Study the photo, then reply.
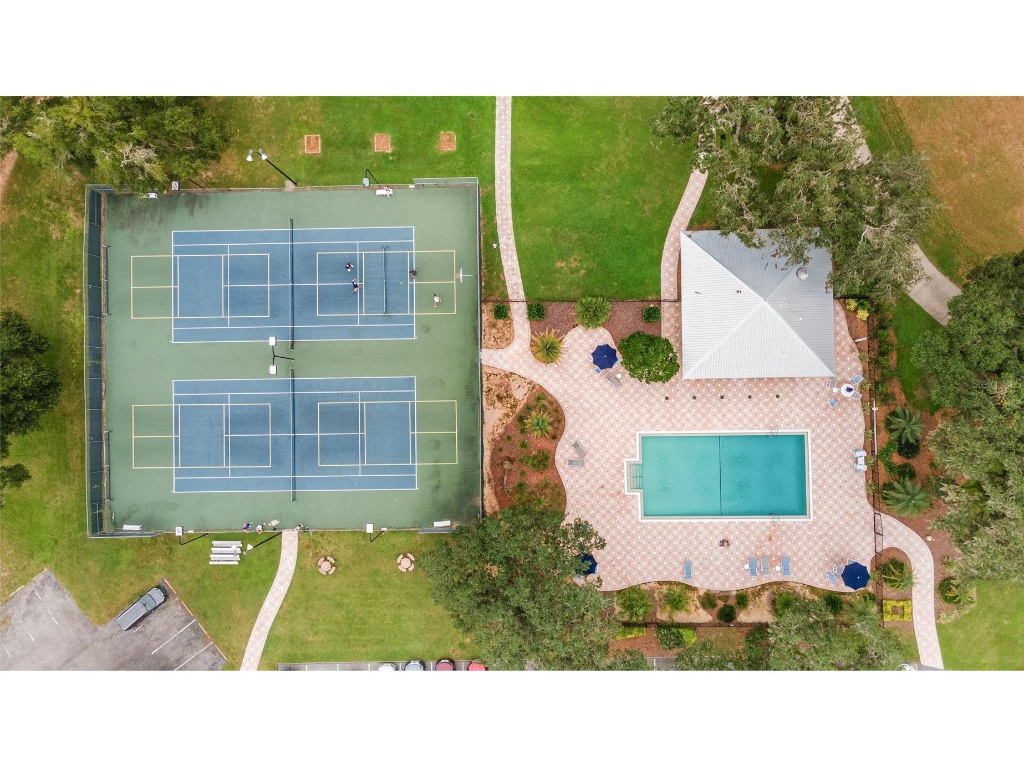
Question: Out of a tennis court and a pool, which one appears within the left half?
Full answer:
You can see a tennis court within the left half.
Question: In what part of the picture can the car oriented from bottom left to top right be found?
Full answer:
Look in the bottom left portion of the view to spot the car oriented from bottom left to top right.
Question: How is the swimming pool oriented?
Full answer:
The swimming pool has been laid out horizontally relative to the frame.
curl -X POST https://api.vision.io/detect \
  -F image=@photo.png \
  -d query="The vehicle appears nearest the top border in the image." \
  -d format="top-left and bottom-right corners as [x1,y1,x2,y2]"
[108,585,169,634]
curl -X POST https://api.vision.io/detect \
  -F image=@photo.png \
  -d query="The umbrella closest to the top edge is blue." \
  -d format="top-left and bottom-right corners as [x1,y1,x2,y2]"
[592,343,617,368]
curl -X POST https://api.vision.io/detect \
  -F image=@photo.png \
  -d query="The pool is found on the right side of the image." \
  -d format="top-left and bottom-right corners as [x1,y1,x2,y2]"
[624,426,817,526]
